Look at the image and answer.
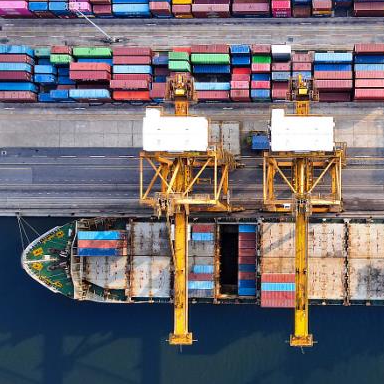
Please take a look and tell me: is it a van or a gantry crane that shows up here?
gantry crane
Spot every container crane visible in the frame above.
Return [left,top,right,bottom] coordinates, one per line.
[258,71,348,355]
[140,71,242,355]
